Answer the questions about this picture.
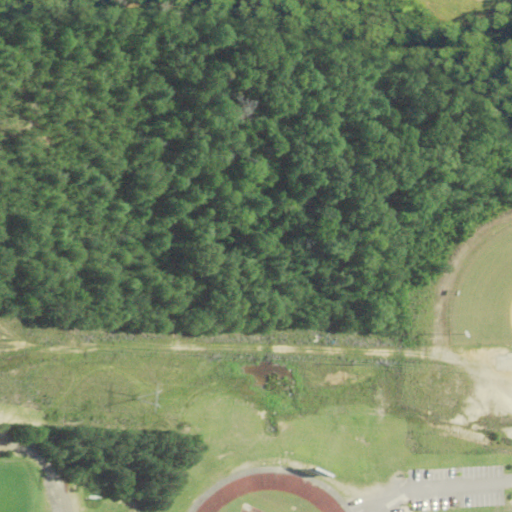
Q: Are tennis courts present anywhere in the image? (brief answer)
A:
No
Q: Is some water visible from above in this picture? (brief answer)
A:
No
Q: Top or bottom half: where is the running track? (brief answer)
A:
bottom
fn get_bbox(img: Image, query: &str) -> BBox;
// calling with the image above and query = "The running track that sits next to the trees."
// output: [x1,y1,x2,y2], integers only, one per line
[192,467,347,512]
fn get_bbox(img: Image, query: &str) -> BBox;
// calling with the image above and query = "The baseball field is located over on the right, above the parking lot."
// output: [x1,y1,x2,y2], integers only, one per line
[436,218,512,353]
